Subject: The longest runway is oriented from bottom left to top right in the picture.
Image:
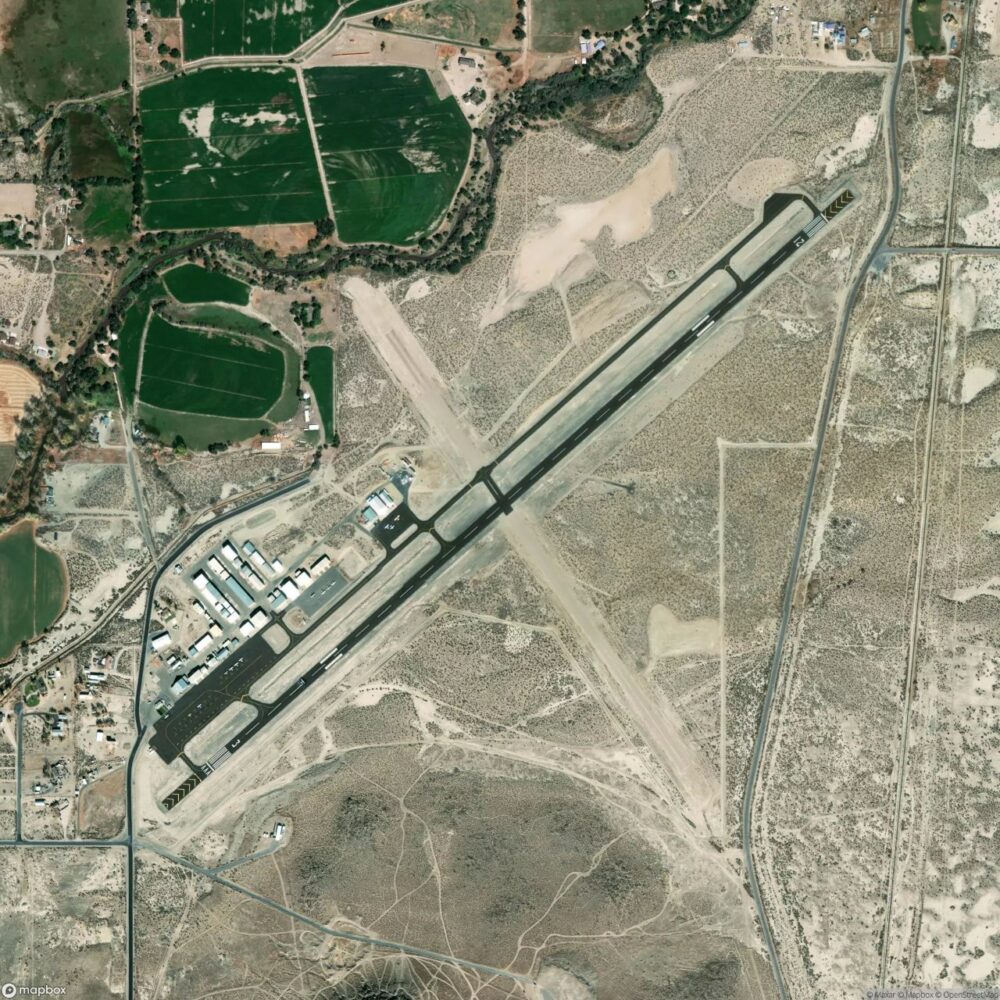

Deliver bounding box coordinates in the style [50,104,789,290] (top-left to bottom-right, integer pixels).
[194,212,830,781]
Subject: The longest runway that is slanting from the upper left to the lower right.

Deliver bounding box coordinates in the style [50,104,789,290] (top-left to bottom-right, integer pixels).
[505,511,724,835]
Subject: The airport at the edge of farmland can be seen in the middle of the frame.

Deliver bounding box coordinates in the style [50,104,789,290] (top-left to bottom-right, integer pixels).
[149,189,855,835]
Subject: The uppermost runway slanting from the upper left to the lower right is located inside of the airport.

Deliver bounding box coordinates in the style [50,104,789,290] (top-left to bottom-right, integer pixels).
[342,277,483,480]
